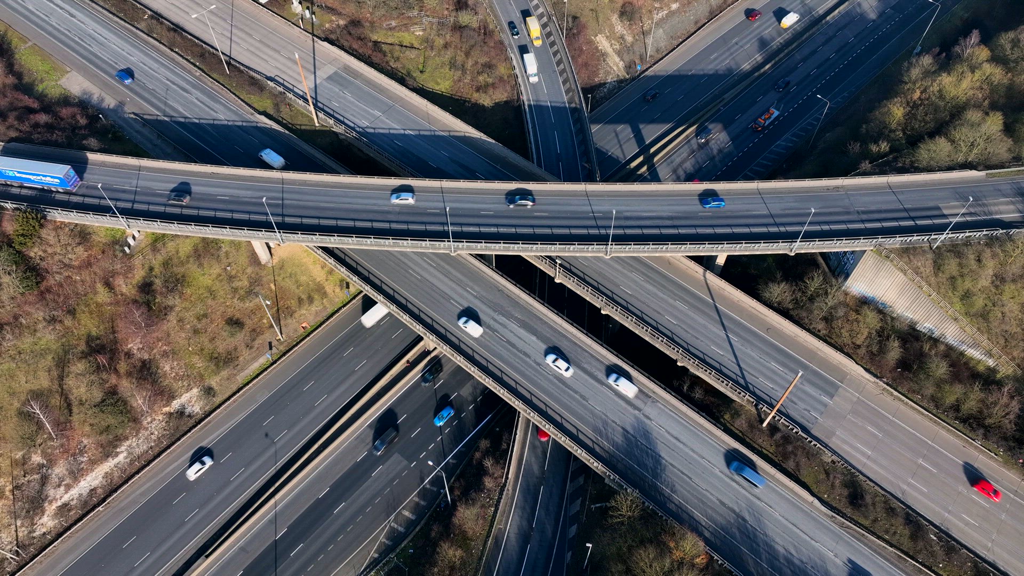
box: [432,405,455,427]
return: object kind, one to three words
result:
car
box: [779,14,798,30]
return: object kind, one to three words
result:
vehicle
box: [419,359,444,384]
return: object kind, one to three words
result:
car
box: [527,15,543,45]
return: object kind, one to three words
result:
vehicle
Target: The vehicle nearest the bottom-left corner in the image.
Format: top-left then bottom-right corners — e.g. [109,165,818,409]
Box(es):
[184,455,214,482]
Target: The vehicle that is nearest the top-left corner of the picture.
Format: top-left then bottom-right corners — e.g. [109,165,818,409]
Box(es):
[115,70,134,83]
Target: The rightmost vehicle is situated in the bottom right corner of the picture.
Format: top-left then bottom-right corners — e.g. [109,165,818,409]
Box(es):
[968,475,1005,505]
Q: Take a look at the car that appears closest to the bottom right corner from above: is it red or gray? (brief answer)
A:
red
